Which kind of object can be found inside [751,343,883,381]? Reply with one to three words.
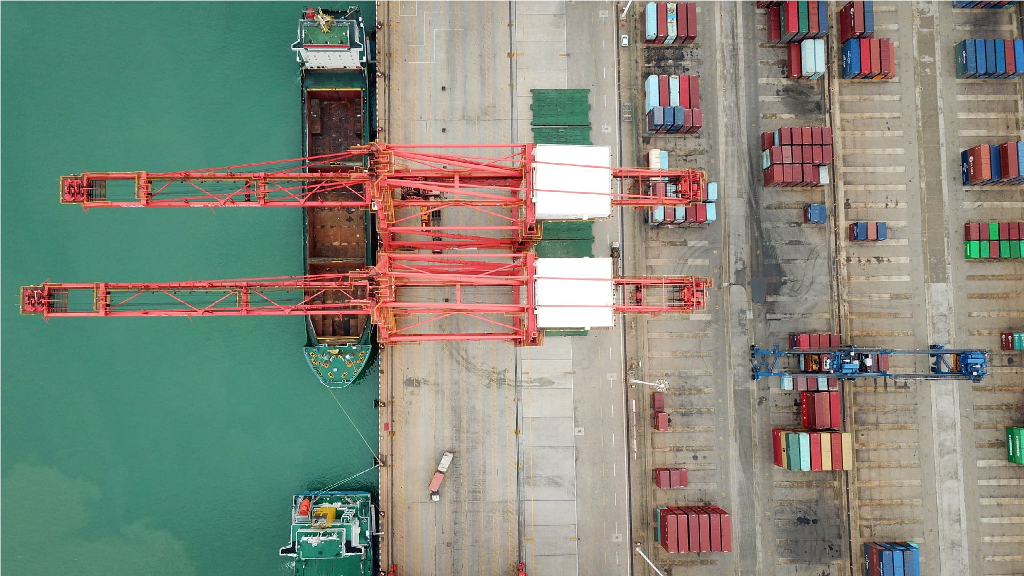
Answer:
container crane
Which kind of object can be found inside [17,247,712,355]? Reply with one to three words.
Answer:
container crane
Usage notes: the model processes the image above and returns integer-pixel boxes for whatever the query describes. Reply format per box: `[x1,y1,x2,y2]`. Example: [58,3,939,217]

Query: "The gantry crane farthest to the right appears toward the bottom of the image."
[852,343,993,383]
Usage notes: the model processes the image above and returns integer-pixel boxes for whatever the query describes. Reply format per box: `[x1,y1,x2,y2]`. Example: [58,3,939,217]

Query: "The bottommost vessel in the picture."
[280,481,384,576]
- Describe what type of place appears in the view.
port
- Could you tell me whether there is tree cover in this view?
No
